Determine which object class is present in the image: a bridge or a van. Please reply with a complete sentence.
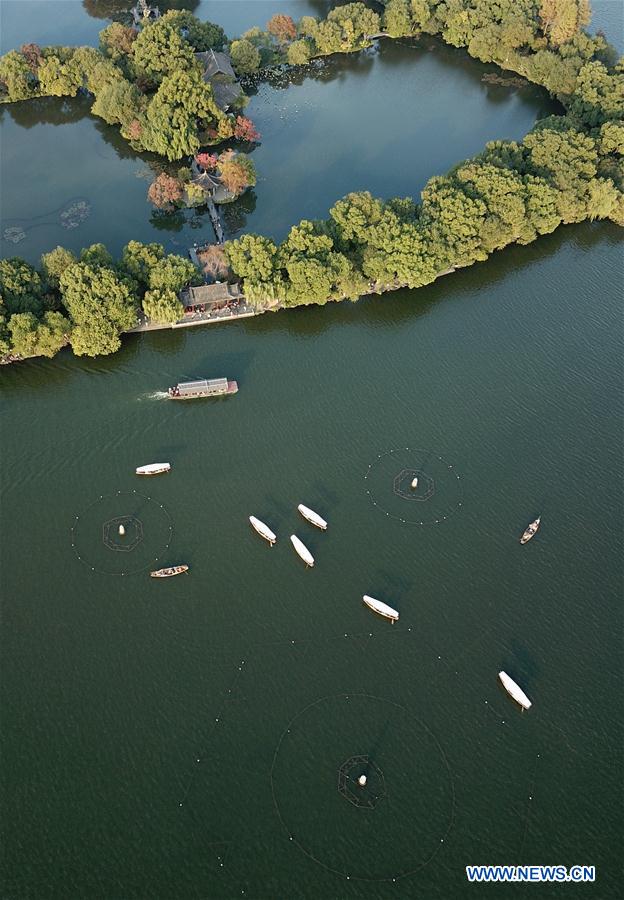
Looking from above, you can make out a bridge.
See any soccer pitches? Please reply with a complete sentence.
No, there is no soccer pitch in the image.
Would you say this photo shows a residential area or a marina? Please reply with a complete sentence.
The picture captures a marina.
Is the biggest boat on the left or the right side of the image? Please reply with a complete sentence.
The biggest boat is on the left side of the image.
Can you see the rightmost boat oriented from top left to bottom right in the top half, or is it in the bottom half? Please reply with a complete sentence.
The bottom half of the photo is where the rightmost boat oriented from top left to bottom right is.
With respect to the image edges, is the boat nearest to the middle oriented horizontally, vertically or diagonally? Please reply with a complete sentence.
The boat nearest to the middle runs diagonally in the image.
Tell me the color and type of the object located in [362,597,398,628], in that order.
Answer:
white boat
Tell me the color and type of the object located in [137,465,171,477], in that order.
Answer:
white boat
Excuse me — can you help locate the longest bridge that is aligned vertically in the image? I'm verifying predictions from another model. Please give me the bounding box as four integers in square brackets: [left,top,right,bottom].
[188,185,226,266]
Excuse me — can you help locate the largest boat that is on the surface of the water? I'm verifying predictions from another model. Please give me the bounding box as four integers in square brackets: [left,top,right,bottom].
[168,377,238,398]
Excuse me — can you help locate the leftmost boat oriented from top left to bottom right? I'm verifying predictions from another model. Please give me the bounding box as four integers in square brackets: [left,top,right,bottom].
[249,517,277,550]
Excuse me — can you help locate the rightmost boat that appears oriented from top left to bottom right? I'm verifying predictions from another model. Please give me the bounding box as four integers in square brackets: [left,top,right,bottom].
[497,673,531,714]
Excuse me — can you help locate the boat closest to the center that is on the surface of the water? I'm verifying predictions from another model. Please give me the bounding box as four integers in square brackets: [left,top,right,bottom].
[298,505,328,536]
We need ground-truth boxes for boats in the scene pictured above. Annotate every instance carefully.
[168,377,238,398]
[362,597,398,628]
[497,673,531,714]
[137,465,171,477]
[249,517,277,550]
[298,505,328,536]
[149,566,190,577]
[520,513,541,545]
[290,535,315,572]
